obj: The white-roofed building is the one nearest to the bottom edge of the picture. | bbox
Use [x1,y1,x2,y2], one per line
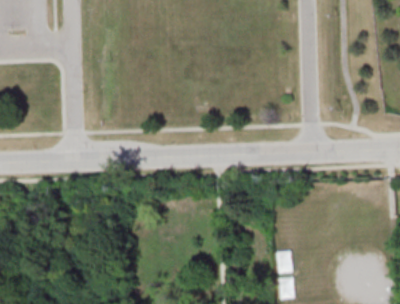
[278,276,297,301]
